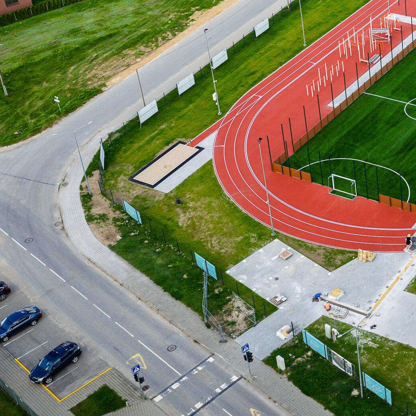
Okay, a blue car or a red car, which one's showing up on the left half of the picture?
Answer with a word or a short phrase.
blue car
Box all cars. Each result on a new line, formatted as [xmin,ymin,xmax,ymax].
[0,284,13,304]
[0,307,45,344]
[29,342,84,384]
